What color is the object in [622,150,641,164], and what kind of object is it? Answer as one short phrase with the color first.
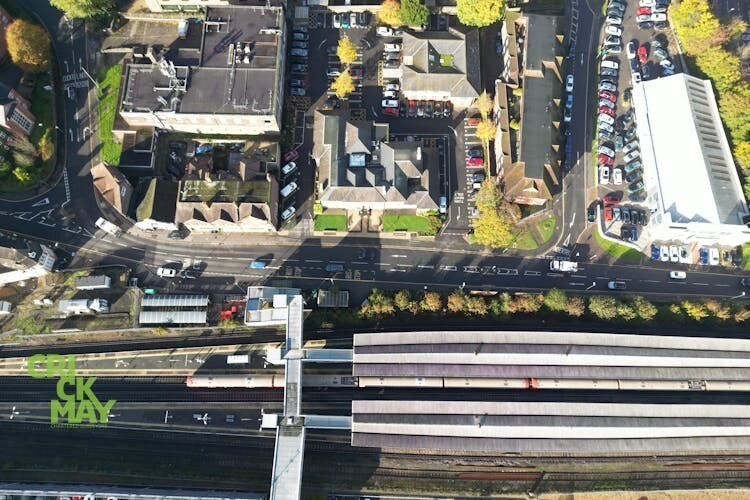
white vehicle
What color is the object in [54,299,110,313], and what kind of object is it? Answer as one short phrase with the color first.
white vehicle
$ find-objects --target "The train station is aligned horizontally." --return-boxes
[0,331,750,451]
